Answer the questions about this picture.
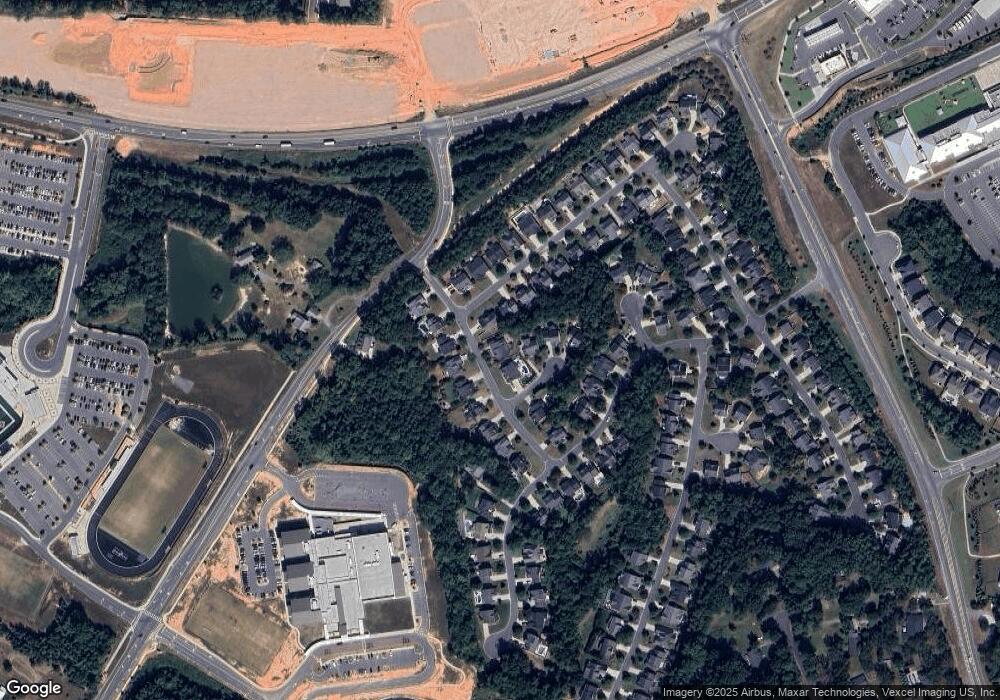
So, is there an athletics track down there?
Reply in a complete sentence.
Yes, the image includes an athletics track.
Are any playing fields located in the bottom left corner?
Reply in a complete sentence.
Yes, I can see a playing field in the bottom left corner.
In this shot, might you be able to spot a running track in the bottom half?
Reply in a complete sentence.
Yes, a running track is visible in the bottom half.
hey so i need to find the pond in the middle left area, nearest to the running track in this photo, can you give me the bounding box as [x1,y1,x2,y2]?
[167,229,240,332]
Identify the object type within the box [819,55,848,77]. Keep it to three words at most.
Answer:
building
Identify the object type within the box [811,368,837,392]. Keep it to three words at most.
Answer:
house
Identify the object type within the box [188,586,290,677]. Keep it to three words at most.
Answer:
sports field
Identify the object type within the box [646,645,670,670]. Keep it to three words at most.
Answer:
house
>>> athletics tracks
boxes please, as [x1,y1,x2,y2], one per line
[92,403,221,570]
